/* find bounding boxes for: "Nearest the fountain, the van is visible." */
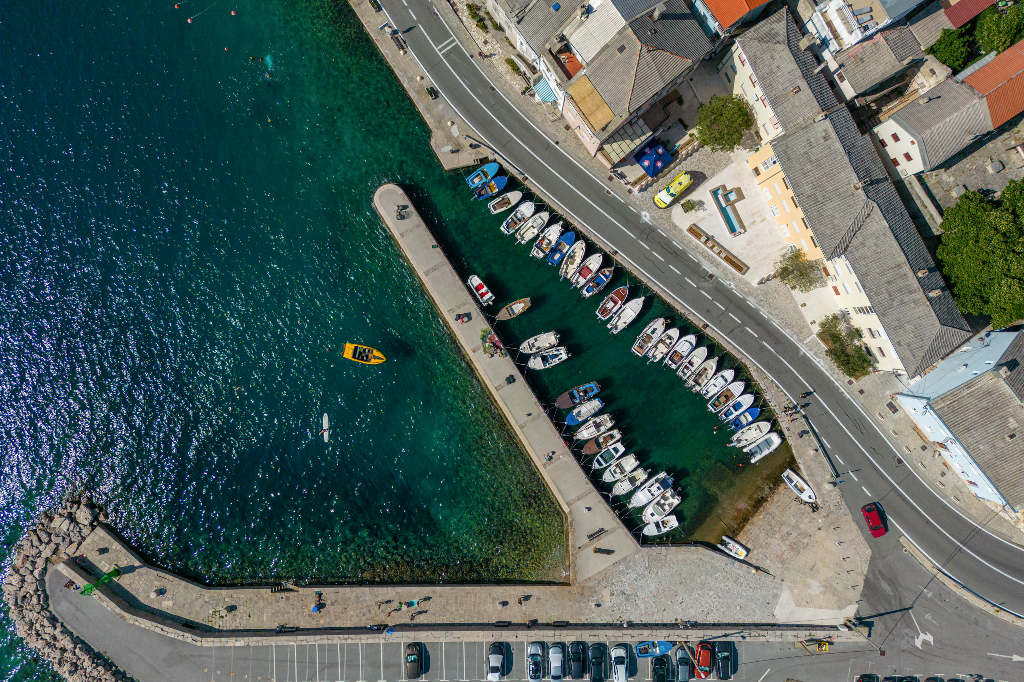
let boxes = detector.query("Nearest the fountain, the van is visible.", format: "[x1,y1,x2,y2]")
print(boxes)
[654,166,696,211]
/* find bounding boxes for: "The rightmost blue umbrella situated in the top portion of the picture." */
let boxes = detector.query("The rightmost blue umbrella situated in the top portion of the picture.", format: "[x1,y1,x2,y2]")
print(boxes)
[633,138,673,177]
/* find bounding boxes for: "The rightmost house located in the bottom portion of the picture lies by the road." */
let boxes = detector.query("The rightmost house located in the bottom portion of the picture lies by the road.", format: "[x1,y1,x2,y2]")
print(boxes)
[902,330,1024,516]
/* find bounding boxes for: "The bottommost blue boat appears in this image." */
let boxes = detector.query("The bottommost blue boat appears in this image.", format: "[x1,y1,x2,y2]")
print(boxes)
[634,641,673,660]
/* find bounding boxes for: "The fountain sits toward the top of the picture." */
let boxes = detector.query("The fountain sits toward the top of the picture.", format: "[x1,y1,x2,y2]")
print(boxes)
[708,185,745,237]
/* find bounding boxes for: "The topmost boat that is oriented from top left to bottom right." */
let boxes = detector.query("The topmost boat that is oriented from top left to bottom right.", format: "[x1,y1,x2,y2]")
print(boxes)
[468,274,497,309]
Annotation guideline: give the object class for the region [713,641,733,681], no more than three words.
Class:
car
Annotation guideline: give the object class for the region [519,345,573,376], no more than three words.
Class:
boat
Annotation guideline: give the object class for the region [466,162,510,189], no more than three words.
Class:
boat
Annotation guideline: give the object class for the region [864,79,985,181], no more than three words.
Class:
house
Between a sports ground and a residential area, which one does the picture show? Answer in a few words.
residential area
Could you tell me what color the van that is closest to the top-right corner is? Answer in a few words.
yellow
